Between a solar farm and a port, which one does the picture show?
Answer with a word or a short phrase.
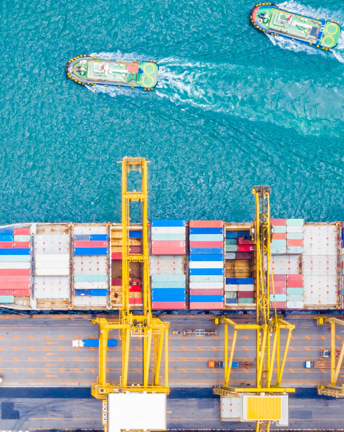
port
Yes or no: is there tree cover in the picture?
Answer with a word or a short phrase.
No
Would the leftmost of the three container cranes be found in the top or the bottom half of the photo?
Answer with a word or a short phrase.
bottom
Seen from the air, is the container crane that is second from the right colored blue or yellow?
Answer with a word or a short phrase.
yellow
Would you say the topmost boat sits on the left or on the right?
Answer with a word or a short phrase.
right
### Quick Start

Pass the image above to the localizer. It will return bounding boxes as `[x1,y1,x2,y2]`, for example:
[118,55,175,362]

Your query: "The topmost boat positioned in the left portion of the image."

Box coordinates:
[65,55,159,92]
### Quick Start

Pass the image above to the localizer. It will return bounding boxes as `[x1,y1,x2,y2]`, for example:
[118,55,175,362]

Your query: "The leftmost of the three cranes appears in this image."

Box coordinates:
[82,156,173,432]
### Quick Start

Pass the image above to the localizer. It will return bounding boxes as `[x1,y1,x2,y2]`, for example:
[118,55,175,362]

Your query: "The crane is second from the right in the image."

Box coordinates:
[202,185,294,432]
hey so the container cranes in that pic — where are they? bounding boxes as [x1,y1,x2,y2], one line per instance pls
[82,156,173,432]
[308,318,344,392]
[202,185,294,432]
